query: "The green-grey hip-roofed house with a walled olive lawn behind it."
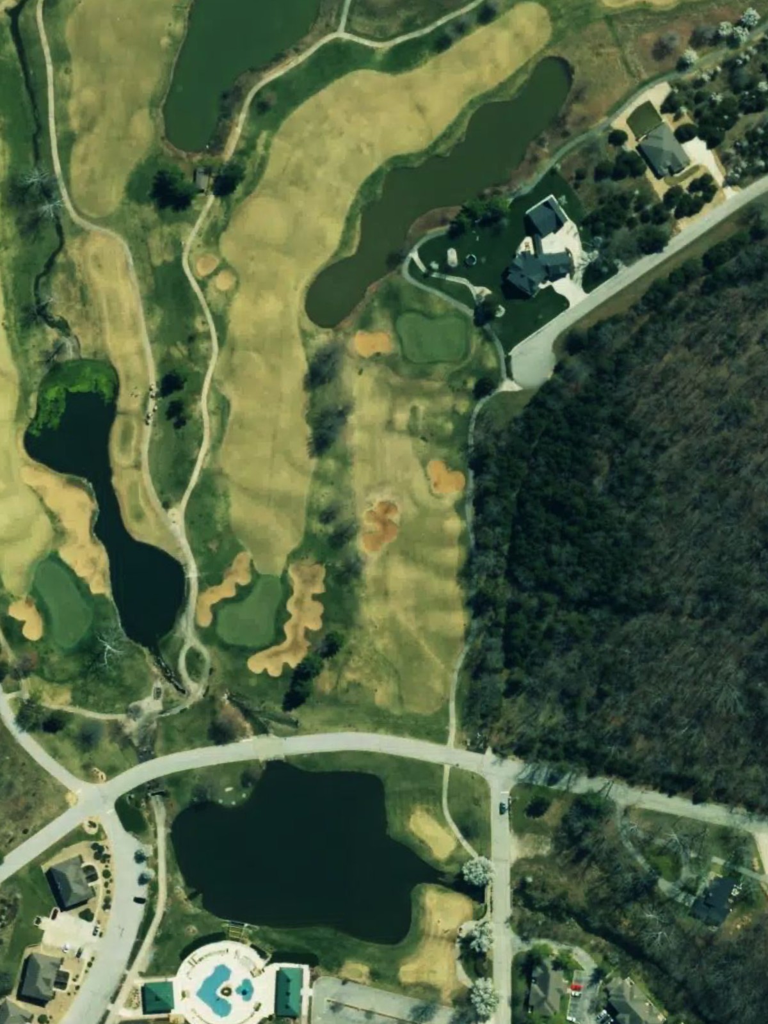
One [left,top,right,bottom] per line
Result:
[639,121,693,179]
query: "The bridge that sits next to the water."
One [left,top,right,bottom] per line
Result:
[252,732,292,762]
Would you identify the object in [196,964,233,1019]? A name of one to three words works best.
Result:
swimming pool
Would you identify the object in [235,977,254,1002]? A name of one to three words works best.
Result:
swimming pool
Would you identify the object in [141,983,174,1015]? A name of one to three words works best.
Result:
building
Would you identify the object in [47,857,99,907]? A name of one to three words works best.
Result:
house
